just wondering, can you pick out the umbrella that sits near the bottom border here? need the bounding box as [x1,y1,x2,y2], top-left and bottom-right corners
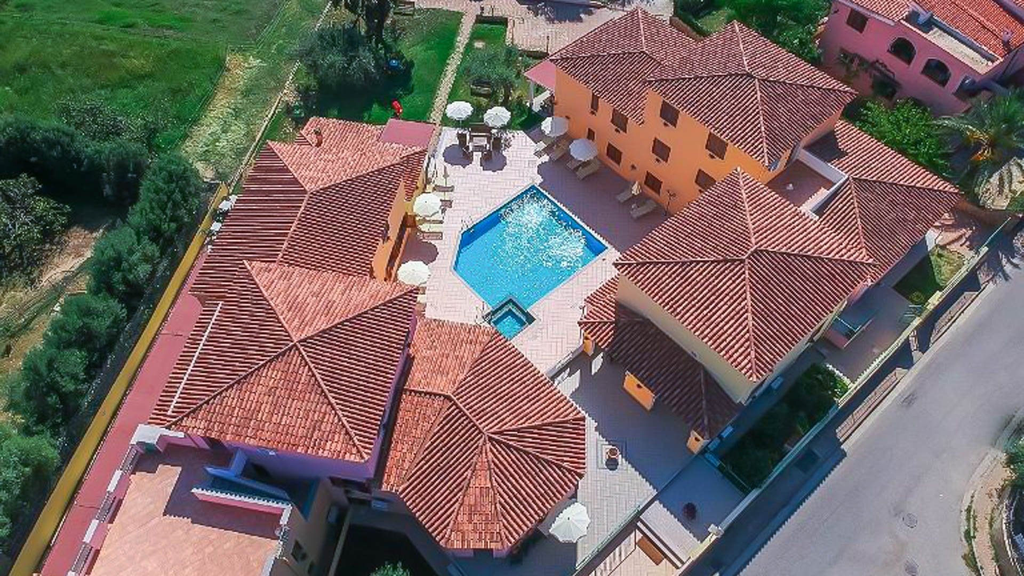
[553,504,594,548]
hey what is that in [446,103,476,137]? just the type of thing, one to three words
umbrella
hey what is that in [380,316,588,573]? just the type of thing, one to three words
building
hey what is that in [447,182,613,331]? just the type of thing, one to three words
swimming pool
